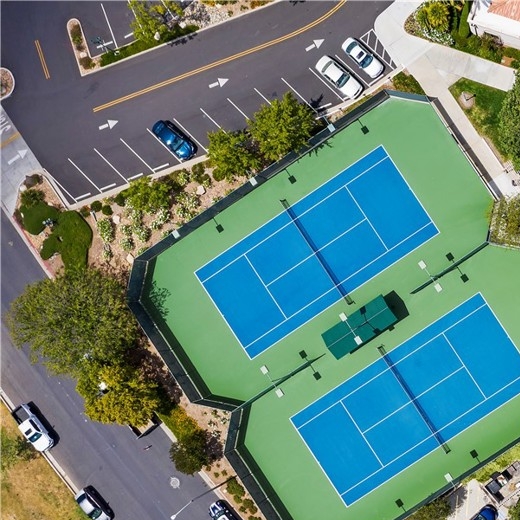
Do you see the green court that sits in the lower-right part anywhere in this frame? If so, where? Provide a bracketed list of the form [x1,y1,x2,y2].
[237,245,520,520]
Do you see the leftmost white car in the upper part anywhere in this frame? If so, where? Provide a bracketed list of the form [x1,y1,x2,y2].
[315,56,359,99]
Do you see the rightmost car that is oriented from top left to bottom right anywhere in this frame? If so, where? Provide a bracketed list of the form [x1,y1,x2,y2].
[341,37,382,79]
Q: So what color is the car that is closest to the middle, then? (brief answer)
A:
blue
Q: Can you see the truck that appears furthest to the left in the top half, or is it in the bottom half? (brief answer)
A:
bottom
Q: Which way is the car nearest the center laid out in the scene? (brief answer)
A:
diagonally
